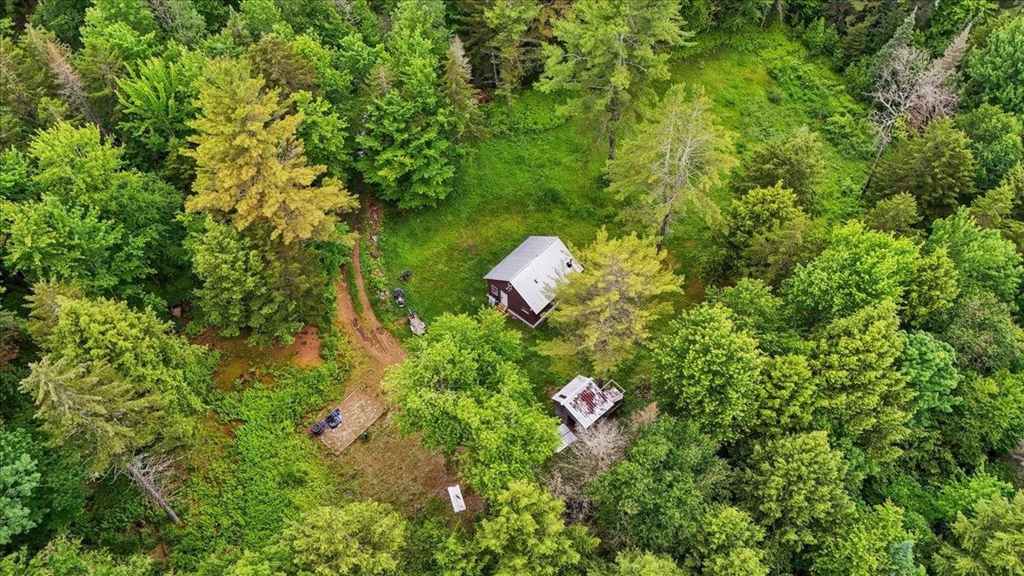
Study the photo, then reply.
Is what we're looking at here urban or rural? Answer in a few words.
rural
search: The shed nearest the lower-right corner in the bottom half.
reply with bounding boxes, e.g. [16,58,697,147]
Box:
[553,375,626,441]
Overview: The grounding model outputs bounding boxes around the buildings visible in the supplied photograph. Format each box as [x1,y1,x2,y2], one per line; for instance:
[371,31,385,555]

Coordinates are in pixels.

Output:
[484,235,583,329]
[553,375,626,441]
